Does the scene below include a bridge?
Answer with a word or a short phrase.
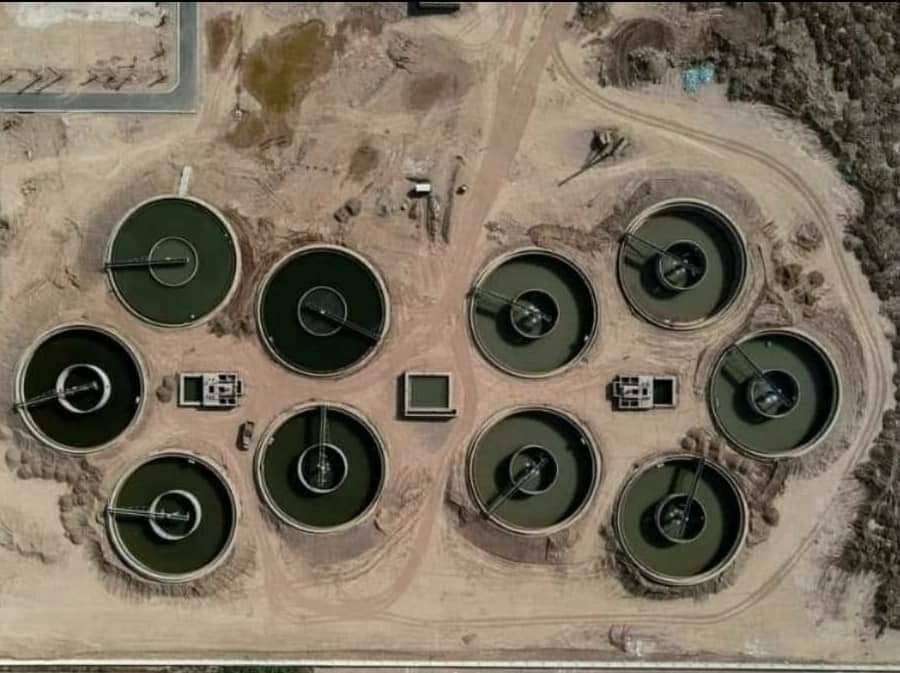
Yes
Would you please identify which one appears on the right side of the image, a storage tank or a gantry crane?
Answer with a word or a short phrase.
storage tank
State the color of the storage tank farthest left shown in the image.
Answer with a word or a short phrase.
black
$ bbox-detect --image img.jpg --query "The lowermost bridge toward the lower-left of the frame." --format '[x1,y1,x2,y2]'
[103,504,190,522]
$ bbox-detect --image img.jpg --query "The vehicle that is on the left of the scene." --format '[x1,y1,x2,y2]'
[240,420,255,449]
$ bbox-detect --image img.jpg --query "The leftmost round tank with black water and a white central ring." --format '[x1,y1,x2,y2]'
[11,323,149,452]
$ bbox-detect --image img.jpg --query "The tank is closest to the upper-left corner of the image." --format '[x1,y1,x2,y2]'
[102,195,243,328]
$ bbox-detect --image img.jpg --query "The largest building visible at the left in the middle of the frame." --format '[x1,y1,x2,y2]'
[181,373,244,406]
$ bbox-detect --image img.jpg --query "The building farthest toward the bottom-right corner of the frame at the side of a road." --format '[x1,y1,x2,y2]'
[613,375,676,408]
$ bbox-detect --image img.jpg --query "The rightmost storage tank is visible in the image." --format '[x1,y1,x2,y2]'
[706,328,839,459]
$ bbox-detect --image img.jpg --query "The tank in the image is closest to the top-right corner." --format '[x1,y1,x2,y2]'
[615,199,747,329]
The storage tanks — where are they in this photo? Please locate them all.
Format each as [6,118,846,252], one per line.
[256,399,387,532]
[11,323,149,452]
[469,248,599,377]
[614,452,747,584]
[102,195,243,328]
[615,199,747,329]
[103,450,240,581]
[258,246,388,376]
[468,404,599,536]
[706,328,839,459]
